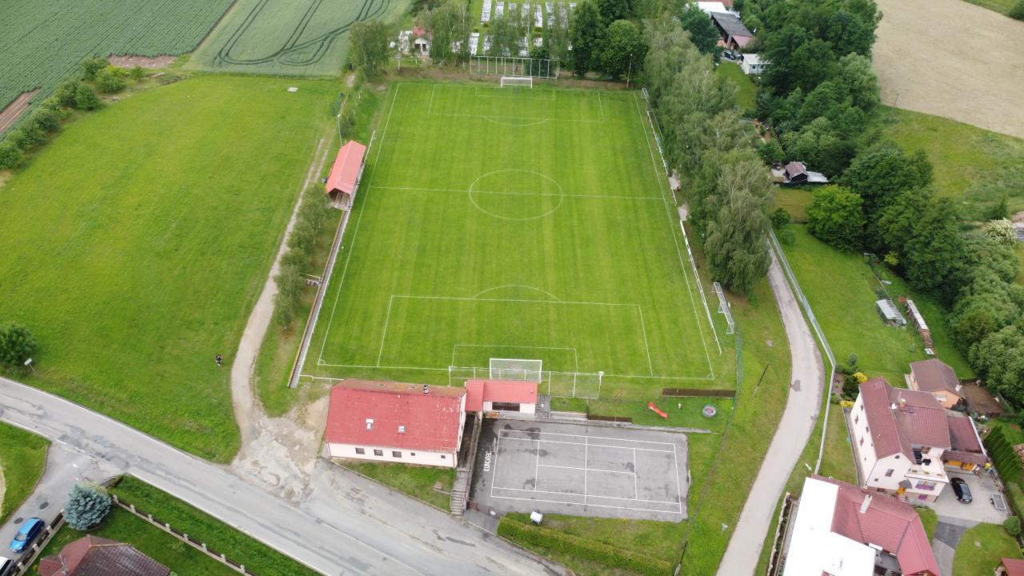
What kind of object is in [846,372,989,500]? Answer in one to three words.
house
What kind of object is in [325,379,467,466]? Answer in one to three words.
building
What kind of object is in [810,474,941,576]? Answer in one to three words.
house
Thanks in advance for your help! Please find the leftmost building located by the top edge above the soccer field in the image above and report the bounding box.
[413,27,430,55]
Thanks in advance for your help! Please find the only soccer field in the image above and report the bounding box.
[303,81,733,390]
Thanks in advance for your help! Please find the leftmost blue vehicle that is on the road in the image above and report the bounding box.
[6,514,45,548]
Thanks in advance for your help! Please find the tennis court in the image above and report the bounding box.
[472,421,687,522]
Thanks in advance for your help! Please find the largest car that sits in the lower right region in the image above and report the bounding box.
[951,476,979,504]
